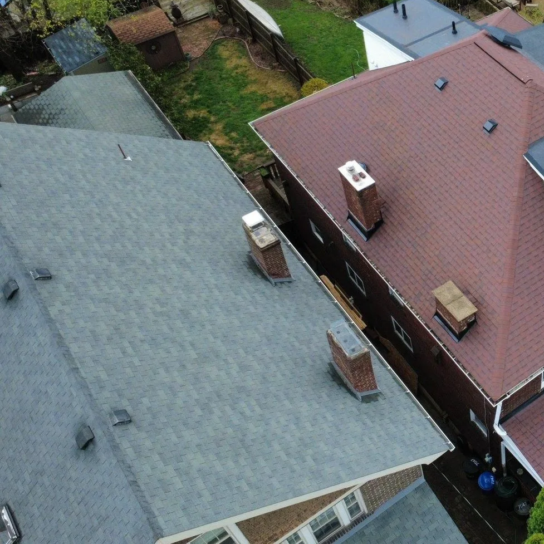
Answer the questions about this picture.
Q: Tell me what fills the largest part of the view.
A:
buildings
